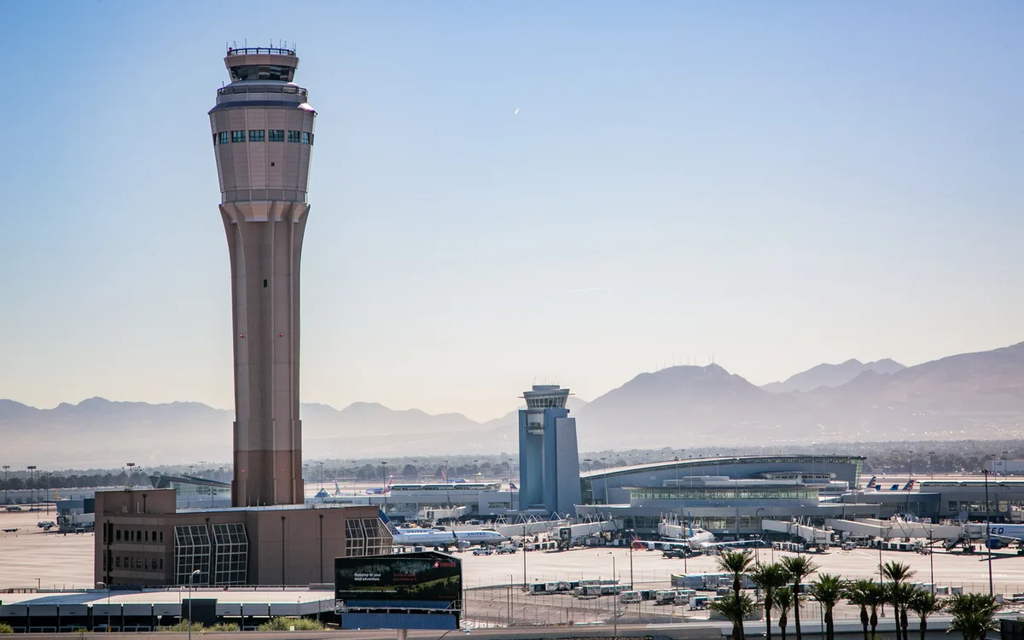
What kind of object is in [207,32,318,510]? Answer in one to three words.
building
